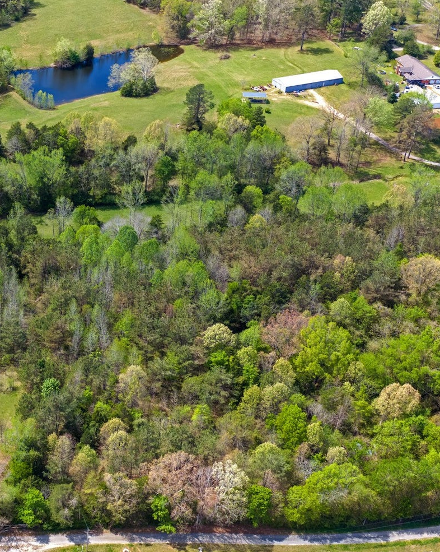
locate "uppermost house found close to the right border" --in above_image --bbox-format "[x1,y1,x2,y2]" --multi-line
[391,53,440,85]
